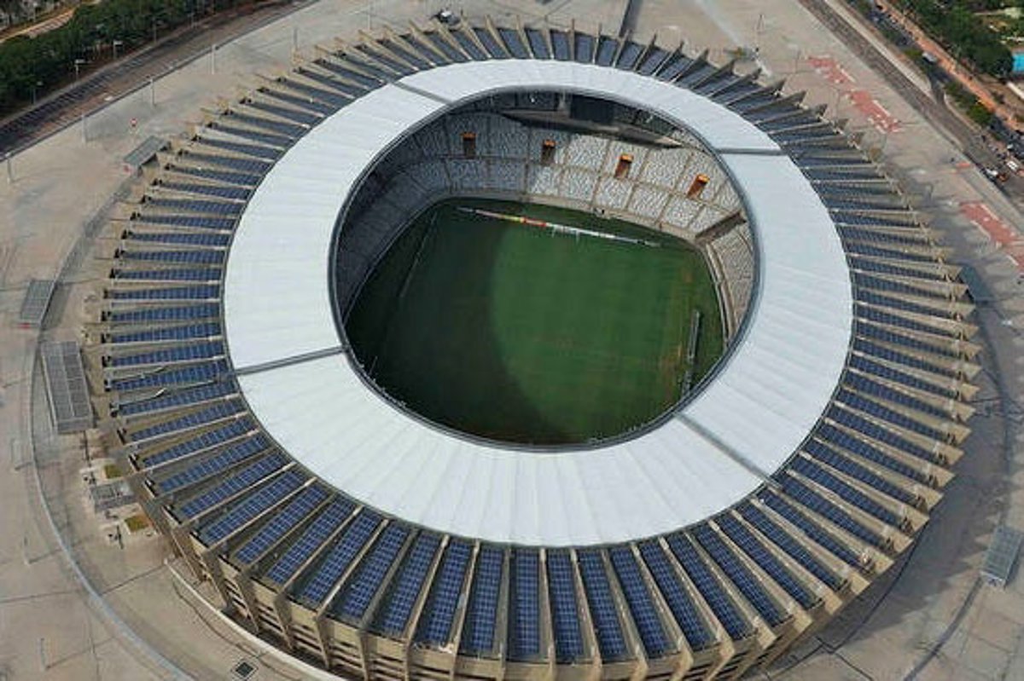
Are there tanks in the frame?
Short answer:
No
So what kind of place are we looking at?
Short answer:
sports ground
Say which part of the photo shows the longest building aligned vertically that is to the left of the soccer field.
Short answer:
left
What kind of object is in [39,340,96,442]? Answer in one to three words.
building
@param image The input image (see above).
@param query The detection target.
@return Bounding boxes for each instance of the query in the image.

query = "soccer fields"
[345,195,724,443]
